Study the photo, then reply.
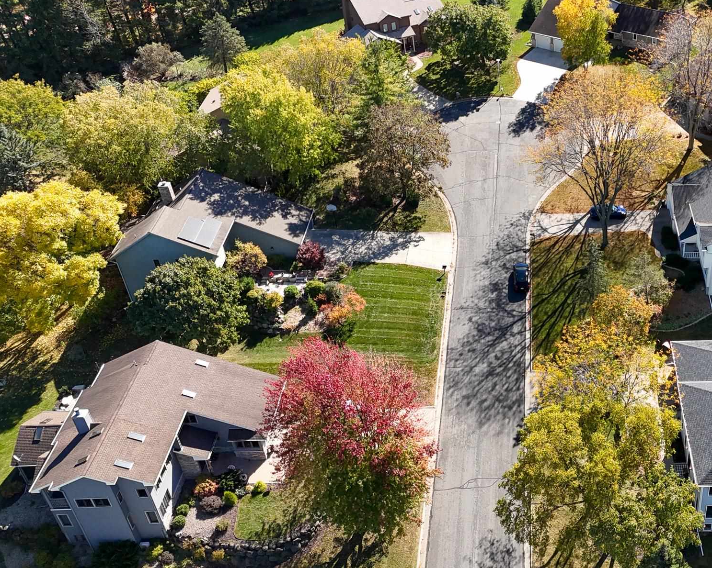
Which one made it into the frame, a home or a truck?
home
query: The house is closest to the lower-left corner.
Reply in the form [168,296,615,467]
[4,337,289,536]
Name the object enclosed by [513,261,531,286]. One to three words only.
car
